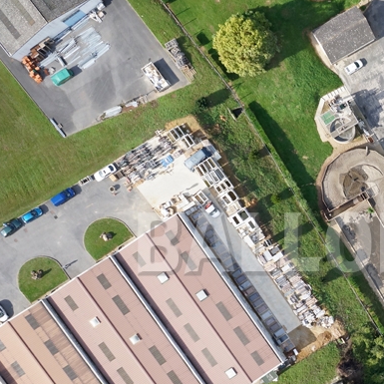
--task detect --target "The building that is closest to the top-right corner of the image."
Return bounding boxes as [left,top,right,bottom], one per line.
[313,6,377,65]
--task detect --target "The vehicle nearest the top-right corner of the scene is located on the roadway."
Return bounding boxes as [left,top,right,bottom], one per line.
[342,57,366,75]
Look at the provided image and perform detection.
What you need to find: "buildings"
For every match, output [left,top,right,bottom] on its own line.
[313,6,377,65]
[0,0,103,58]
[0,211,287,384]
